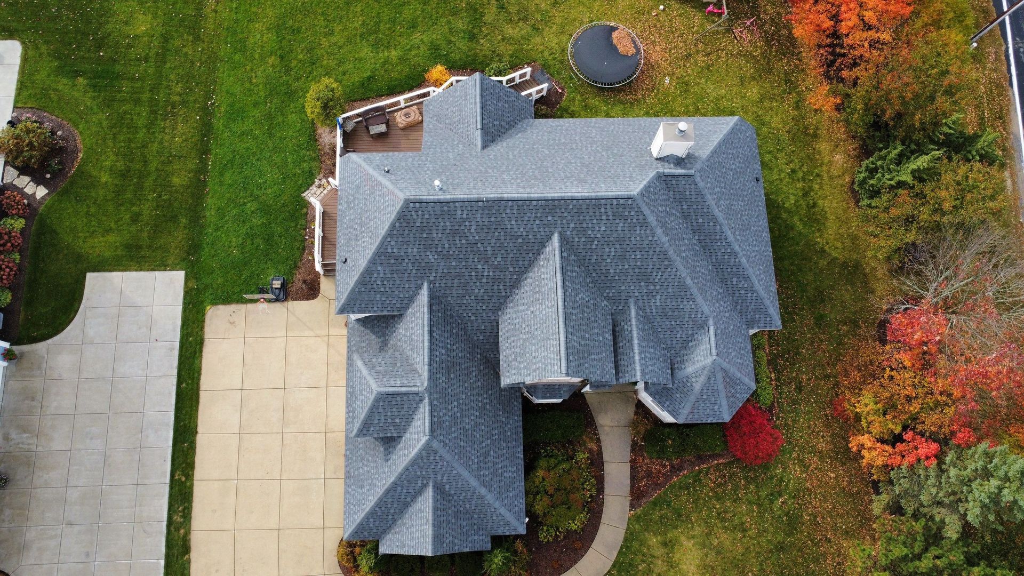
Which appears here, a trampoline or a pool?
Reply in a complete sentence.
This aerial view contains a trampoline.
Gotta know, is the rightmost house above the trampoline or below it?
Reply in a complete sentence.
In the image, the rightmost house appears below the trampoline.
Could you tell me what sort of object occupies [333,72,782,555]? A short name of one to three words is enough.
house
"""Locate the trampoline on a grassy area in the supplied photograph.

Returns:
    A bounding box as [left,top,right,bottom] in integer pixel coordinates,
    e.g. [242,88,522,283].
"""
[569,22,643,93]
